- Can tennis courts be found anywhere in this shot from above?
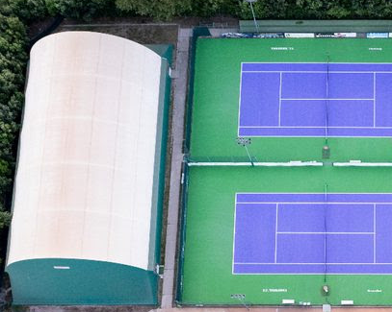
Yes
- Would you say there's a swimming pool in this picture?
No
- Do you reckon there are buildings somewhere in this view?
Yes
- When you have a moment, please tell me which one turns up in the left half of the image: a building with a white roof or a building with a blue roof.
building with a white roof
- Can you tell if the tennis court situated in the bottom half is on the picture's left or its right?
right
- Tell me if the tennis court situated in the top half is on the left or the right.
right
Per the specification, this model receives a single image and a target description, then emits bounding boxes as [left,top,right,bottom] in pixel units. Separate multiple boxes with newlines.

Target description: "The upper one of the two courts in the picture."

[188,37,392,163]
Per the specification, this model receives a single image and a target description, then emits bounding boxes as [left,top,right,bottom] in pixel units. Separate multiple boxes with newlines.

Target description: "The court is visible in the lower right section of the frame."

[179,163,392,305]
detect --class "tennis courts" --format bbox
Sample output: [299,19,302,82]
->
[179,163,392,305]
[188,37,392,163]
